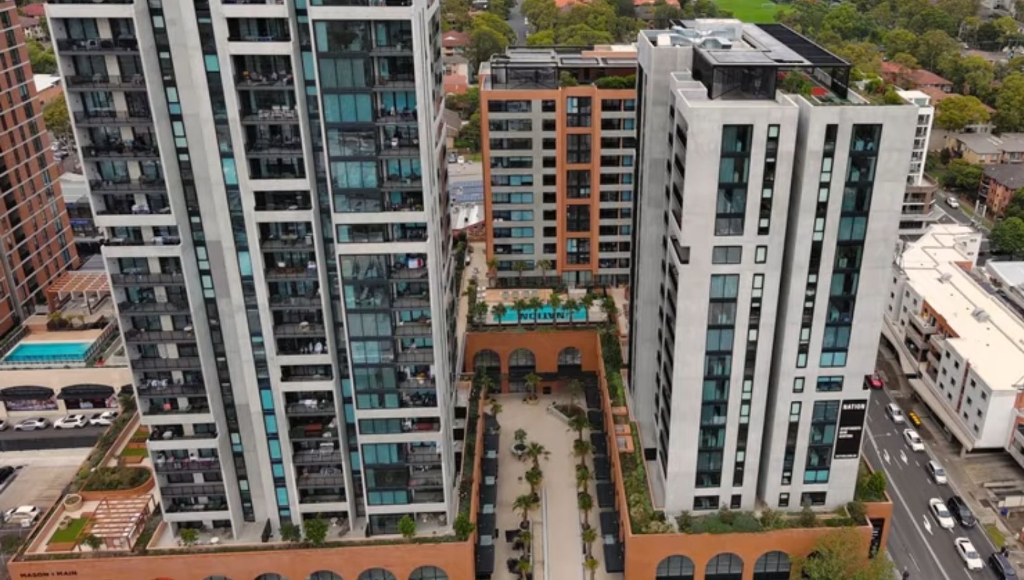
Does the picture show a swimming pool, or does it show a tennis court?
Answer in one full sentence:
I can see a swimming pool in this picture.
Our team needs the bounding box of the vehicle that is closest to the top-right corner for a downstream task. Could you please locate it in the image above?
[945,194,959,208]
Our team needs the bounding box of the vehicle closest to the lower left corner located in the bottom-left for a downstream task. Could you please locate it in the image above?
[1,505,41,526]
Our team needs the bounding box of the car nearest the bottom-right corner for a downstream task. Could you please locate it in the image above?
[988,553,1020,580]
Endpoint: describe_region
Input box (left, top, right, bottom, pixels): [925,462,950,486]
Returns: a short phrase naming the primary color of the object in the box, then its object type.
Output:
gray car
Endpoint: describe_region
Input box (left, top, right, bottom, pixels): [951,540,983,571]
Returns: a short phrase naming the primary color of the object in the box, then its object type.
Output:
white car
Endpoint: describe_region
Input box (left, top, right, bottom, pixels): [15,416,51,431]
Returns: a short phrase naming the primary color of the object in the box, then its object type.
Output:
gray car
